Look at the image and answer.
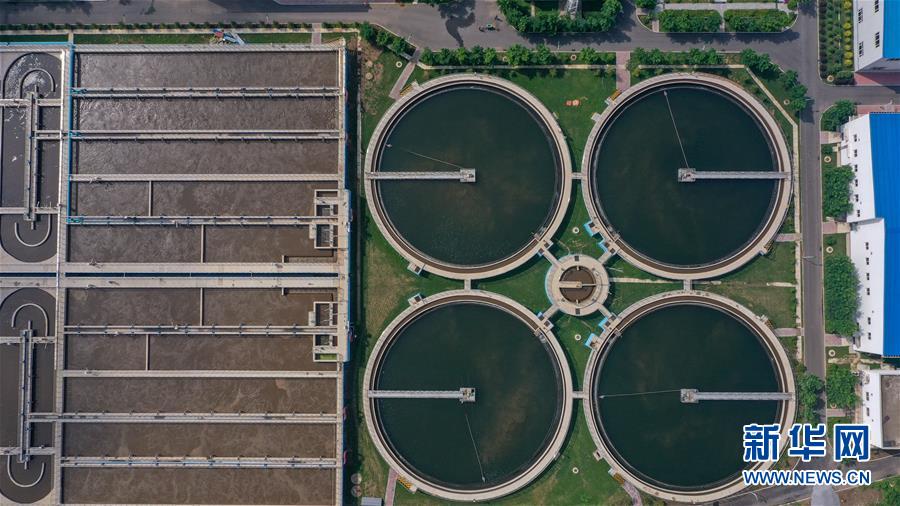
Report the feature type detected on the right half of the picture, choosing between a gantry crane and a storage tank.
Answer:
storage tank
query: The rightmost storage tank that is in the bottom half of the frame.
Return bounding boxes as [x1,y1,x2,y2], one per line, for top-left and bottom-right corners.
[583,290,798,506]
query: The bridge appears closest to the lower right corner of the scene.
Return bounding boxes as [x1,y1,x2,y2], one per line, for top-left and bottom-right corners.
[680,388,798,403]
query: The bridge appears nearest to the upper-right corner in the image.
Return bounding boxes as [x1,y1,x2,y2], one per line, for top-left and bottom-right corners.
[678,168,794,182]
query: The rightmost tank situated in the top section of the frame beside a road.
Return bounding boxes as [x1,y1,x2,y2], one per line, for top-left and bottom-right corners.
[580,70,794,280]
